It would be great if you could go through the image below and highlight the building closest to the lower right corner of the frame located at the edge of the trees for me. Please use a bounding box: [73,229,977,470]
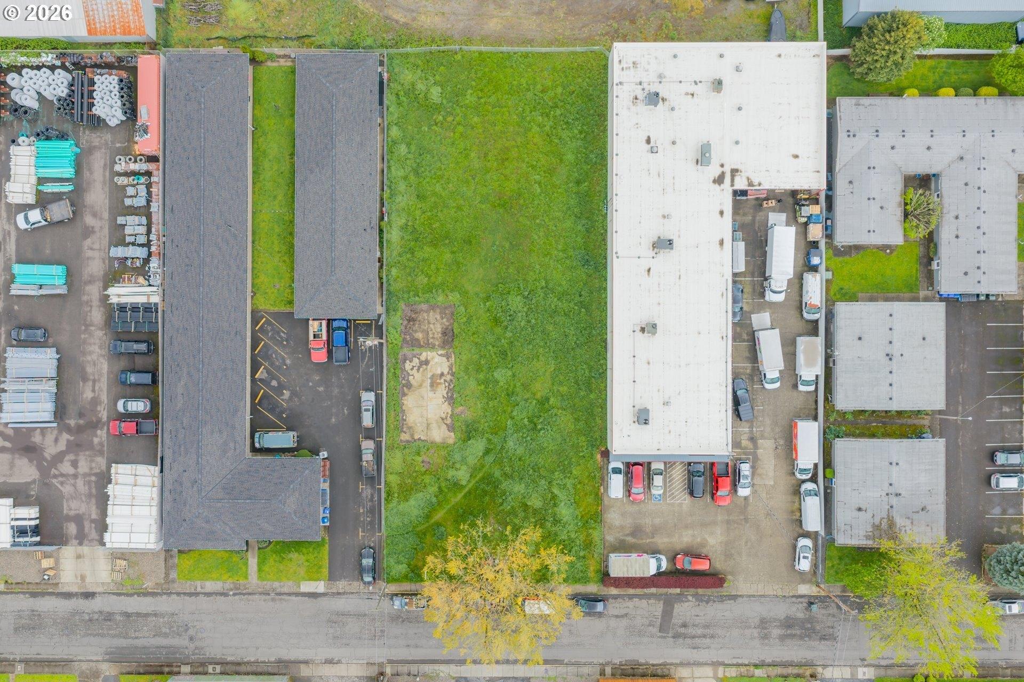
[833,439,946,547]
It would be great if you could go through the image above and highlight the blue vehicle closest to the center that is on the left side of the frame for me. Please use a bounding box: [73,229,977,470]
[330,319,350,365]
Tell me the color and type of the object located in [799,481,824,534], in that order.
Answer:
white vehicle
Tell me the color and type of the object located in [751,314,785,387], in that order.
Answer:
white truck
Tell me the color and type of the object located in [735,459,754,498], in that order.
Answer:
white car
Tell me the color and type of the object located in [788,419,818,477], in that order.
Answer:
white truck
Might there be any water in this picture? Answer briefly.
No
